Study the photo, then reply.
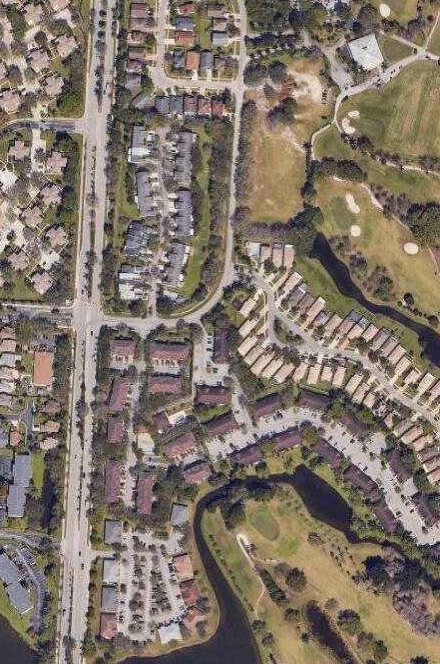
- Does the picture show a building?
Yes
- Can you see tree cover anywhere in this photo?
Yes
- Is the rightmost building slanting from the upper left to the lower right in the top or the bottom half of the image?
bottom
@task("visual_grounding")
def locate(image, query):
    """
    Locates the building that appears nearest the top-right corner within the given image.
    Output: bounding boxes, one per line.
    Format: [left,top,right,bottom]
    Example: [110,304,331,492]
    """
[349,33,384,70]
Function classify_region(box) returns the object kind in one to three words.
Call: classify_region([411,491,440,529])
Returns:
building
